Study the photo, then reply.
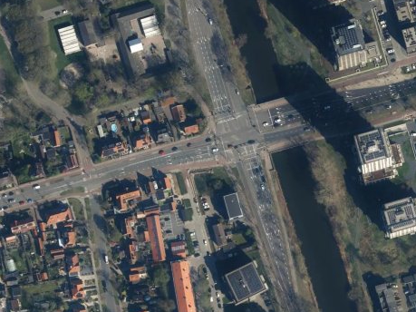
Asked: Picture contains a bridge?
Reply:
Yes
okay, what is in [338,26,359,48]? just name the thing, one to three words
solar array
